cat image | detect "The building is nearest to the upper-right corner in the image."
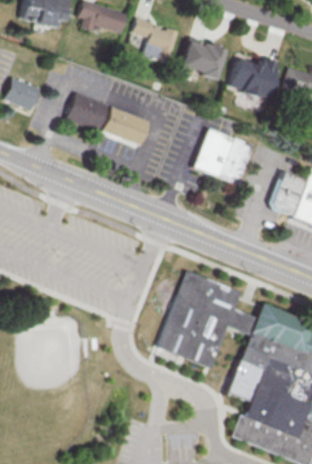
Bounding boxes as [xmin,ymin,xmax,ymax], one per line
[284,64,312,91]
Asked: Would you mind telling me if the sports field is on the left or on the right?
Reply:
left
